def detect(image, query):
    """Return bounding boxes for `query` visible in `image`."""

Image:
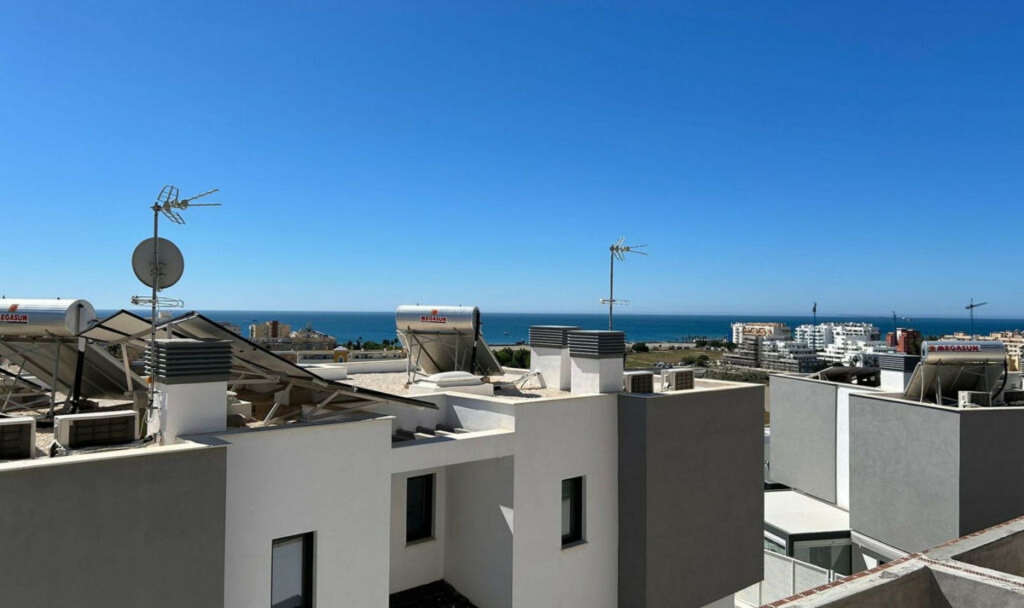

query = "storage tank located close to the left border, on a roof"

[0,299,87,339]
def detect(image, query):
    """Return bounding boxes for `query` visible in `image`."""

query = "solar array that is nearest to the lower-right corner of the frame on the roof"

[795,366,879,382]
